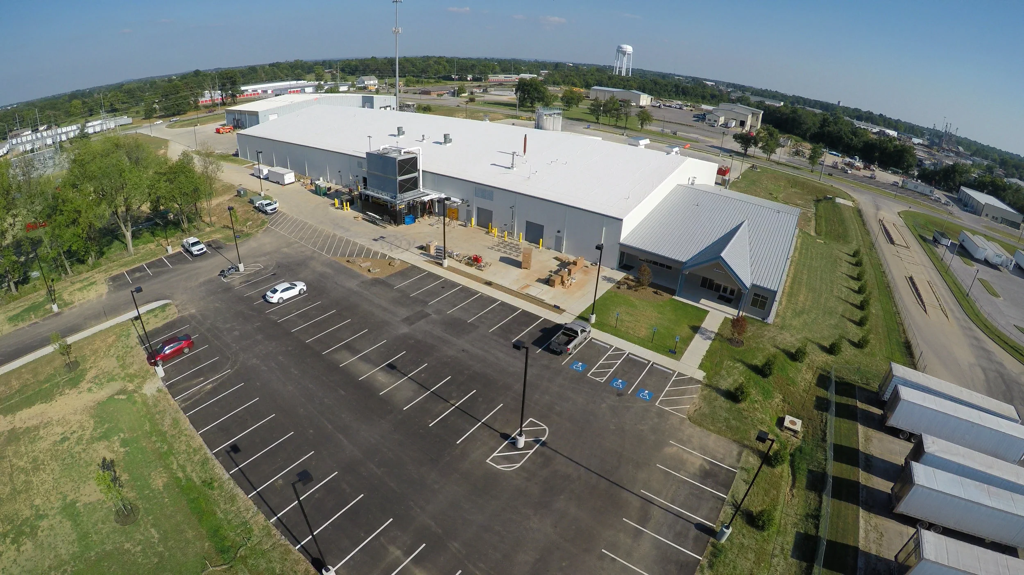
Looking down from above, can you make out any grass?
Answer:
Yes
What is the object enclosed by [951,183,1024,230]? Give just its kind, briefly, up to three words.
building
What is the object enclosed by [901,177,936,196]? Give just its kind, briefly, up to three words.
building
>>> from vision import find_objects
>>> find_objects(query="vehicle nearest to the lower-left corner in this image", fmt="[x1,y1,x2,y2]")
[144,335,193,366]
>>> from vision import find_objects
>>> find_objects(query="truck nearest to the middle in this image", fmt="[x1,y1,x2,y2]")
[550,319,596,357]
